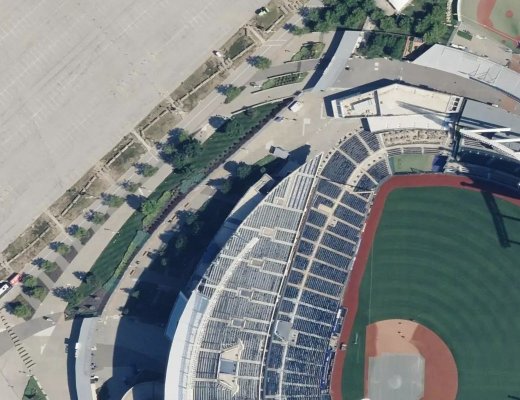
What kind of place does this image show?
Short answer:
sports ground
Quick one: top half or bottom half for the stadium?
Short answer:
bottom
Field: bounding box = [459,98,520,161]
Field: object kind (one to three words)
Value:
building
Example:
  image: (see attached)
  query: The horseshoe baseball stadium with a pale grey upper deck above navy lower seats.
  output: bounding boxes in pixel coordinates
[128,128,520,400]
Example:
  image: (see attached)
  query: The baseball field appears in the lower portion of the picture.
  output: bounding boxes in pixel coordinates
[270,132,520,400]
